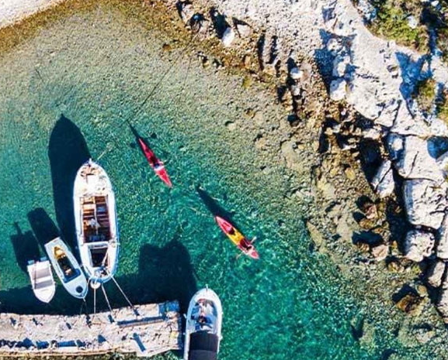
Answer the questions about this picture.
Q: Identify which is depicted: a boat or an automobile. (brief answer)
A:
boat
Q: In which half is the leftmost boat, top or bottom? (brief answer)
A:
bottom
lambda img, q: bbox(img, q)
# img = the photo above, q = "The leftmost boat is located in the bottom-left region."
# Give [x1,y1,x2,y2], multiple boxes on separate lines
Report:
[25,256,58,303]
